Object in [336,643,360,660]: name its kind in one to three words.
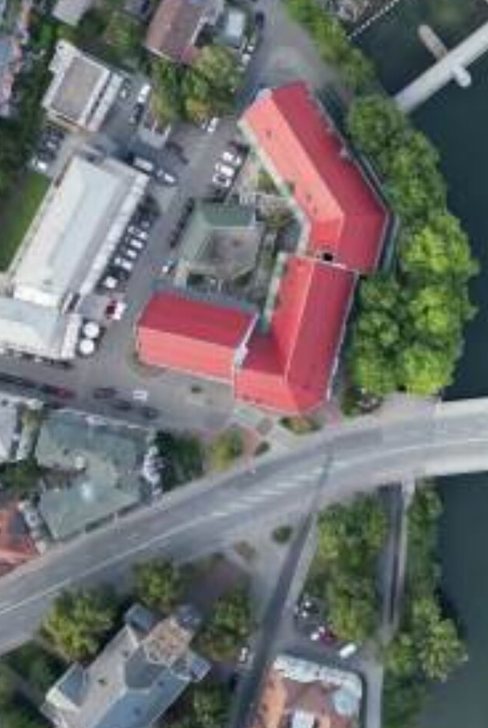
vehicle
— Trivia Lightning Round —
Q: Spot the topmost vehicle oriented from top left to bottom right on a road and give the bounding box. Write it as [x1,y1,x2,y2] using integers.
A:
[251,9,269,29]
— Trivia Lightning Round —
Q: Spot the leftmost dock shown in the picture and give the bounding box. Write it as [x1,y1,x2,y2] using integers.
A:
[416,26,449,64]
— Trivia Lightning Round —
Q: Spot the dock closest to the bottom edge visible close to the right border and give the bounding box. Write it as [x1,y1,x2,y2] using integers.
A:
[450,68,471,92]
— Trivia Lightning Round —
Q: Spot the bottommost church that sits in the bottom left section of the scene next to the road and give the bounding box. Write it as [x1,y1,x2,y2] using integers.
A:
[41,602,213,728]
